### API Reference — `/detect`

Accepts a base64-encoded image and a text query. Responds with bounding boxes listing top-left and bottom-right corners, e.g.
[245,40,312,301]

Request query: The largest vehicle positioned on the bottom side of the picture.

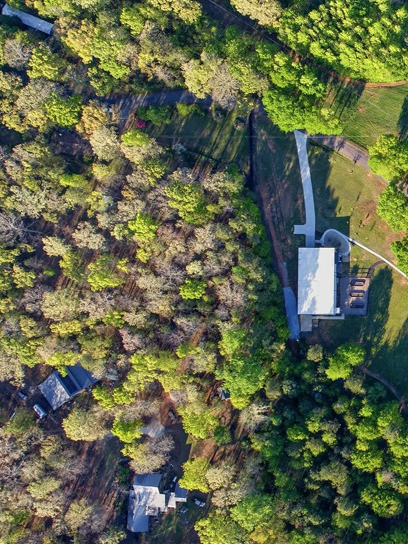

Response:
[31,404,46,418]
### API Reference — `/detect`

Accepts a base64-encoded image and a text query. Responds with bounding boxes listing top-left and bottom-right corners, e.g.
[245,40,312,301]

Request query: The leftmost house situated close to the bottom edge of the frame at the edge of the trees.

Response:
[127,474,165,532]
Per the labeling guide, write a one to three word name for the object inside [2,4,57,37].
house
